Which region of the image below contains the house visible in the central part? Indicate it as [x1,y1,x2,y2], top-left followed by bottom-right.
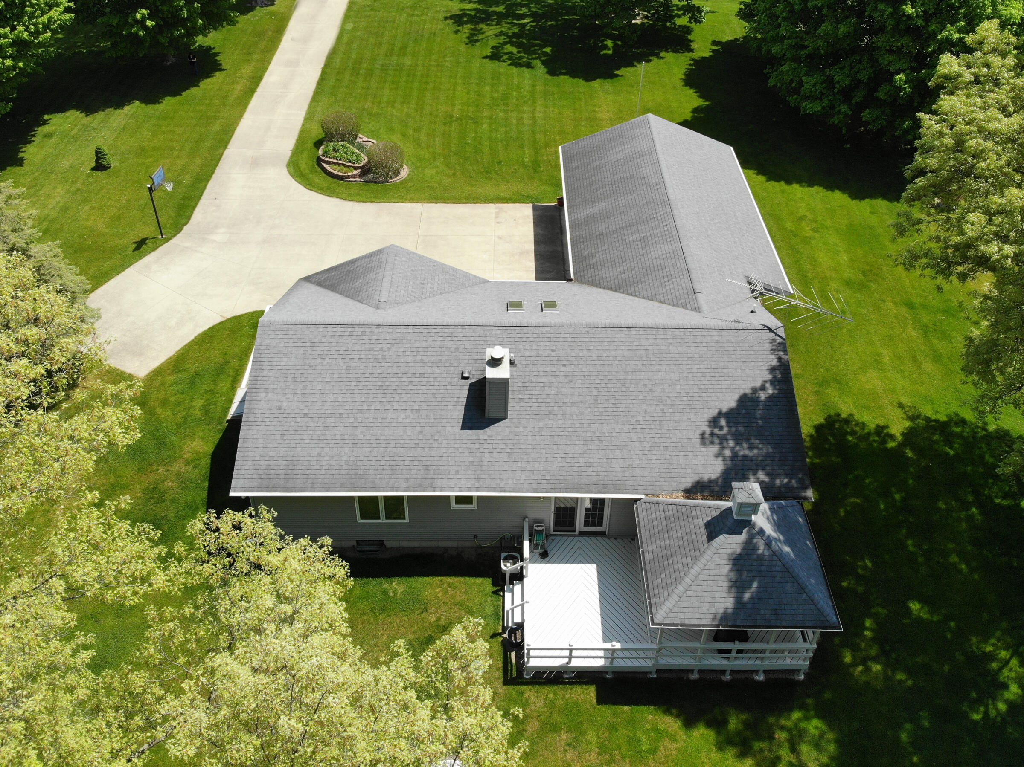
[229,114,815,557]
